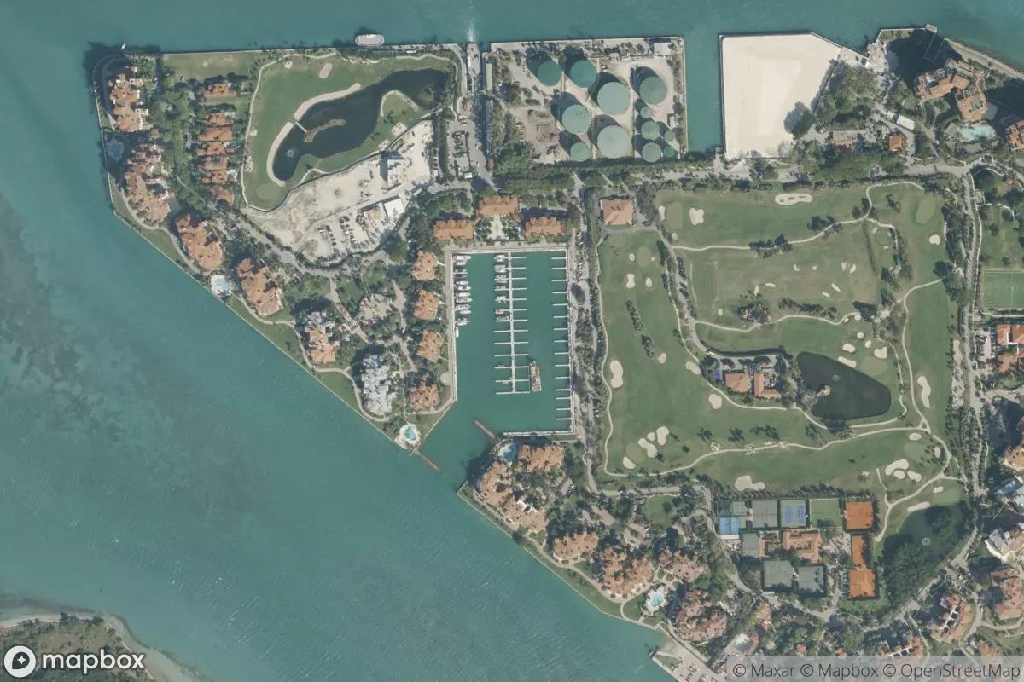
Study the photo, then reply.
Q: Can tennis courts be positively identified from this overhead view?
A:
Yes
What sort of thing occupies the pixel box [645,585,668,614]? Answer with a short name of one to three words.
swimming pool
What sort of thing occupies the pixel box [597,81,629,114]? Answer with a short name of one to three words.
storage tank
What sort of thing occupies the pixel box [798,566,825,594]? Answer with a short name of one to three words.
tennis court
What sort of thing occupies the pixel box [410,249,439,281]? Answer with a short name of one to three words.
house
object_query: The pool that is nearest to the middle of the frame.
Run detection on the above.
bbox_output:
[498,440,518,465]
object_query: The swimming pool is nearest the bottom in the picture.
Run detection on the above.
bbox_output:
[732,633,754,653]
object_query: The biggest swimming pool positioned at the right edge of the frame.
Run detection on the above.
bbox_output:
[957,124,997,140]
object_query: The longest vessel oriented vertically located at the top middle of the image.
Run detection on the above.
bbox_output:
[467,44,480,78]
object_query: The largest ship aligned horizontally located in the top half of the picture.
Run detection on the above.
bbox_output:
[355,34,384,46]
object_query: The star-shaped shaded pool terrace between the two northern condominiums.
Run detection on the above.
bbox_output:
[107,138,123,161]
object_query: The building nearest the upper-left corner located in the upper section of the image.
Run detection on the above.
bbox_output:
[107,66,150,134]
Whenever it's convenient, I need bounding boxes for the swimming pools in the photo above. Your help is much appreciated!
[107,138,123,161]
[210,272,232,295]
[732,633,754,653]
[396,423,420,451]
[498,440,518,465]
[957,124,997,140]
[645,585,668,614]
